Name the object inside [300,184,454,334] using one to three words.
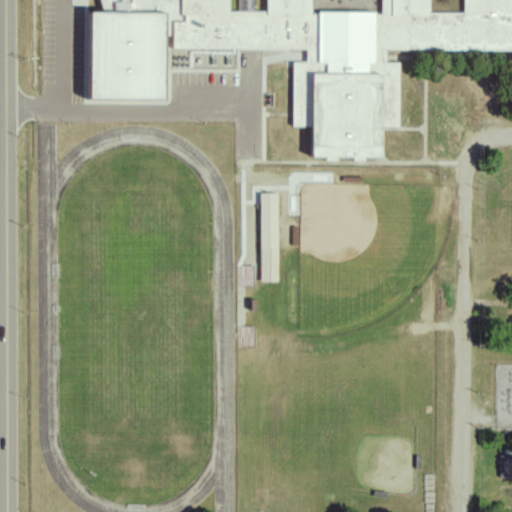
baseball field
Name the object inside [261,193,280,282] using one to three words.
shed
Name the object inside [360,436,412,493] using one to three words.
baseball field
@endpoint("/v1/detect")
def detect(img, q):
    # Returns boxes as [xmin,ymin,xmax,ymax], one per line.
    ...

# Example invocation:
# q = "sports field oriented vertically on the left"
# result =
[58,144,214,505]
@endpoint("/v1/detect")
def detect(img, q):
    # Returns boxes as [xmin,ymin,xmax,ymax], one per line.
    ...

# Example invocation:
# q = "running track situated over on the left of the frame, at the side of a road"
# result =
[38,122,234,512]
